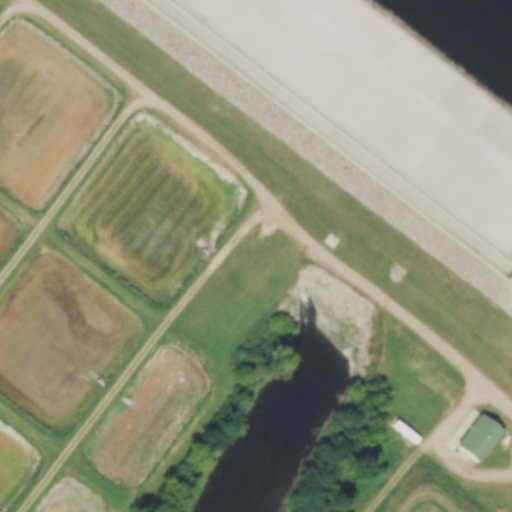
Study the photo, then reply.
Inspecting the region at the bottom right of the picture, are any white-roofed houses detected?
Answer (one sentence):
Yes, a white-roofed house is visible at the bottom right of the picture.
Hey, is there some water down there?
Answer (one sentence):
Yes, the picture does contain water.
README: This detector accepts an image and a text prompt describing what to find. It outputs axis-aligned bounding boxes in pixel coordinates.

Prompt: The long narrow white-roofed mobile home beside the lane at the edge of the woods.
[393,420,424,446]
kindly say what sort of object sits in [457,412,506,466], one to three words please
building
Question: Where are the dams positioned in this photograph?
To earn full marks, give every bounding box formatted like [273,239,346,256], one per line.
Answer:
[39,0,512,360]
